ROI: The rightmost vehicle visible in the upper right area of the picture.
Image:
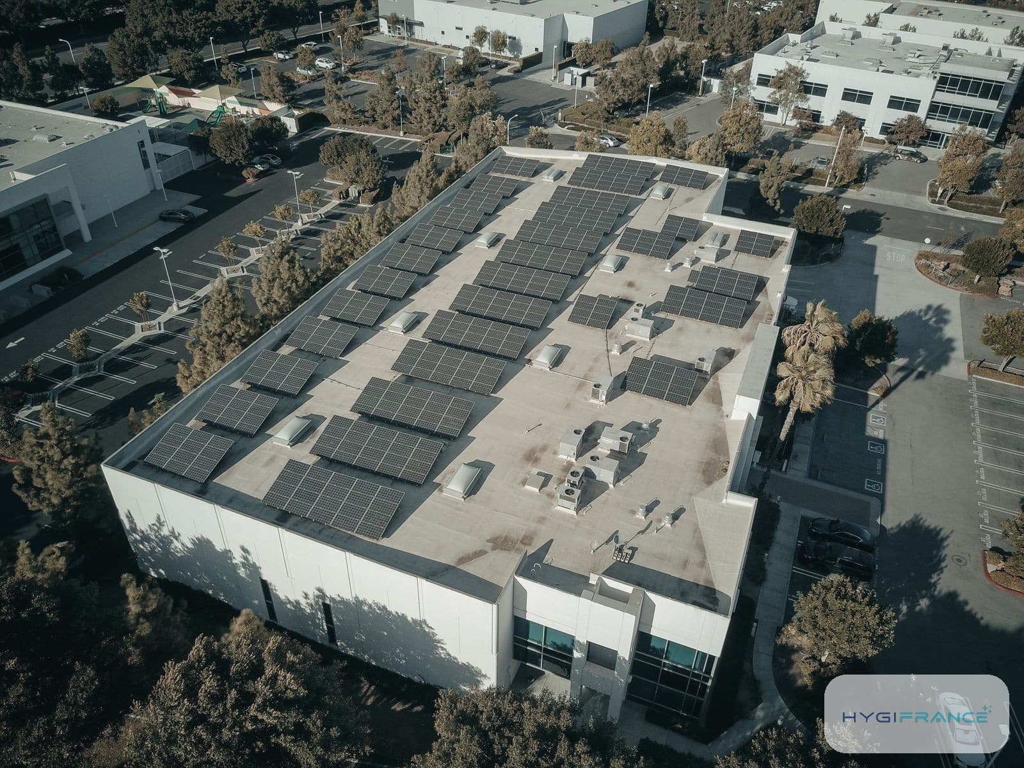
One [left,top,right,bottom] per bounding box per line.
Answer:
[894,142,926,162]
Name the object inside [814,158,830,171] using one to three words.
vehicle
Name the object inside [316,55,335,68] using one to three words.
vehicle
